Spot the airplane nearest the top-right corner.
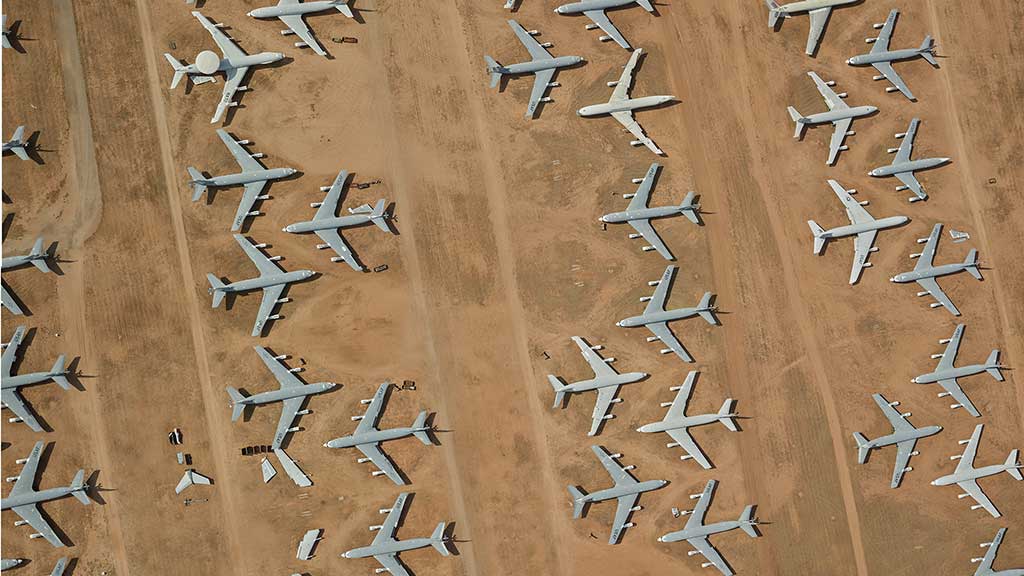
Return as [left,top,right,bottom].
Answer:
[845,9,941,100]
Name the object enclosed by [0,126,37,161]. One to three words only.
airplane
